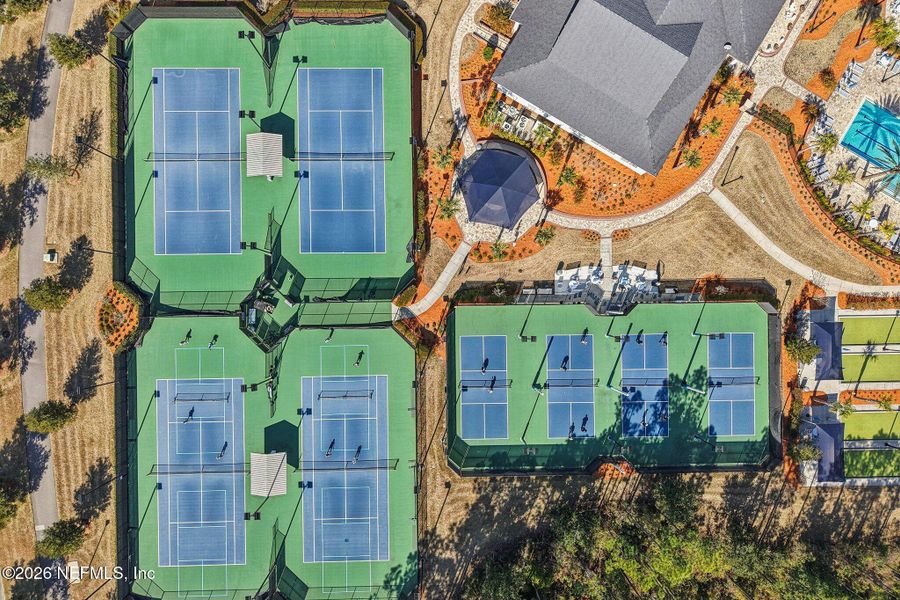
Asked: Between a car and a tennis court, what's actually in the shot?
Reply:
tennis court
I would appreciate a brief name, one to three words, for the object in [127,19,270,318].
tennis court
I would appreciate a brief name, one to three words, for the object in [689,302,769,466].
sports court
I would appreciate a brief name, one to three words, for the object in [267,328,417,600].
tennis court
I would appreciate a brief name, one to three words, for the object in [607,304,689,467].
sports court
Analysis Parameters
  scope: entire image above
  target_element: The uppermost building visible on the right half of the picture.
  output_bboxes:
[491,0,794,175]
